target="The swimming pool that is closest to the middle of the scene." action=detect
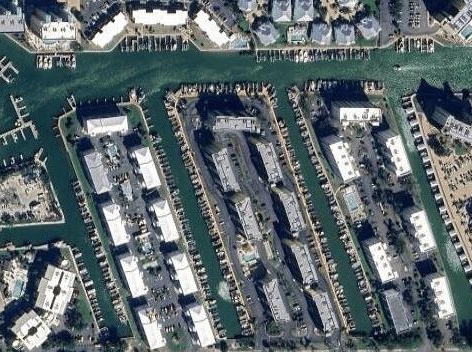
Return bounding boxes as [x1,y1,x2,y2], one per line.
[239,252,260,265]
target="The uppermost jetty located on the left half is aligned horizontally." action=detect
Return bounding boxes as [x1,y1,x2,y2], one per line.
[121,36,190,49]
